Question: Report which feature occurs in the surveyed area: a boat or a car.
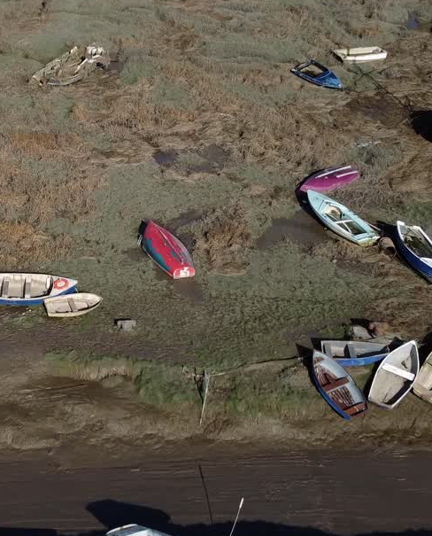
boat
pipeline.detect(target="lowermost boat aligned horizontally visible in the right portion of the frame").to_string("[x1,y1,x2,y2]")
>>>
[320,341,389,362]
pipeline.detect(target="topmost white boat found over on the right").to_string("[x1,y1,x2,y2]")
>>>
[336,50,387,63]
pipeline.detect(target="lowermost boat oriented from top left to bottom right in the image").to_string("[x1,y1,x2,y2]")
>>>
[312,351,368,416]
